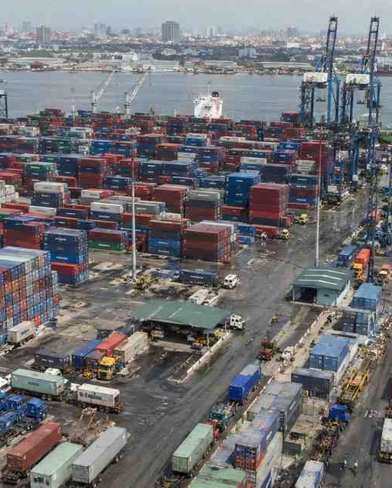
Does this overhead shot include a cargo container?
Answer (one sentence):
Yes, there is a cargo container in the image.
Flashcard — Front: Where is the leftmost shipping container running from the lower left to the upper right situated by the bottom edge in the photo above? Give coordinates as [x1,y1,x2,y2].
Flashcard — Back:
[13,422,61,474]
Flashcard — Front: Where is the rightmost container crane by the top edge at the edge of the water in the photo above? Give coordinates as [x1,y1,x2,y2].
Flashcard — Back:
[340,11,386,155]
